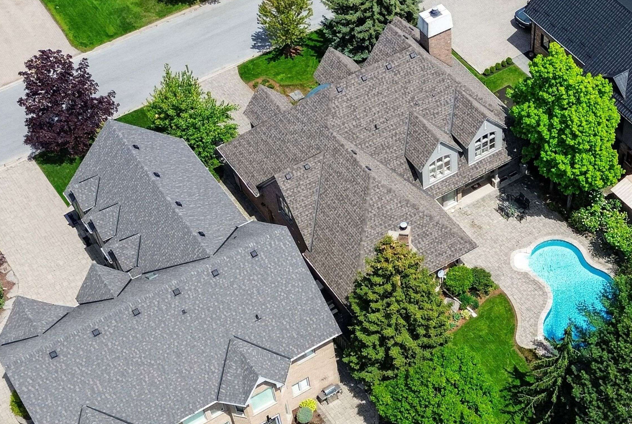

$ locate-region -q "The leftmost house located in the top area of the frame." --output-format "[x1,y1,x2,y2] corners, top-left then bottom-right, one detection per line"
[216,4,541,322]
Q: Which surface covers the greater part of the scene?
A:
buildings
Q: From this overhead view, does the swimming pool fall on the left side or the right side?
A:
right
